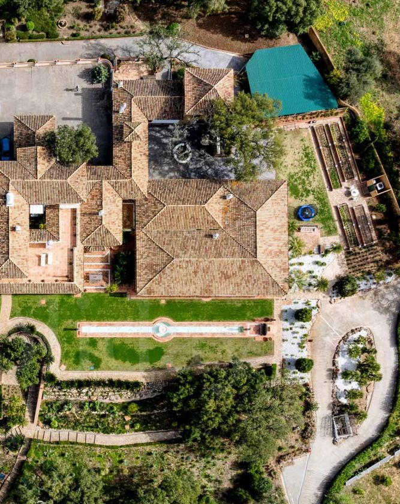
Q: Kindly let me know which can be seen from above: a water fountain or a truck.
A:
water fountain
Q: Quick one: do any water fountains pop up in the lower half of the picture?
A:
Yes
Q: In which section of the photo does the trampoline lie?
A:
right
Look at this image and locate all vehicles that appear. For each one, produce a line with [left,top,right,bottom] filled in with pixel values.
[0,135,13,161]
